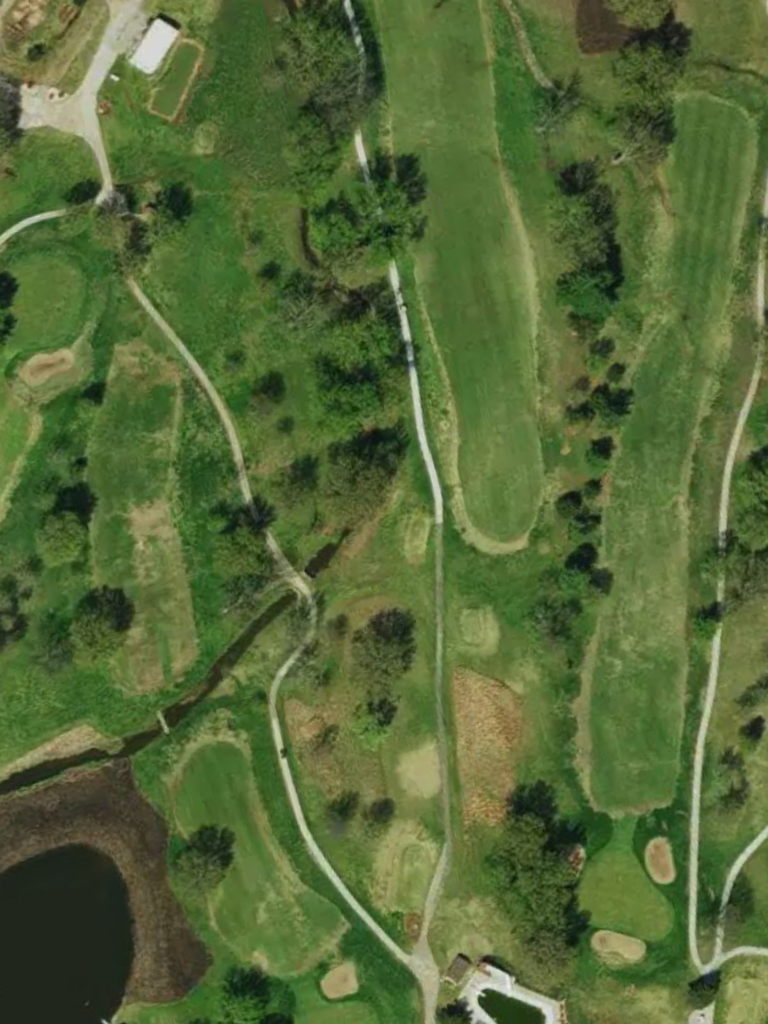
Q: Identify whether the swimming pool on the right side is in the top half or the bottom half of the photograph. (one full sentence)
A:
The swimming pool on the right side sits in the bottom half of the picture.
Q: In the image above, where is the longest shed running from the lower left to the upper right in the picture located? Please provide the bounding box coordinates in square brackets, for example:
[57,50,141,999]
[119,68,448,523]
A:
[131,16,179,74]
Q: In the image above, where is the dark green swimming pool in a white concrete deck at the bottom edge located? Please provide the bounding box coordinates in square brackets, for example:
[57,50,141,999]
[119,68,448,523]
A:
[461,965,564,1024]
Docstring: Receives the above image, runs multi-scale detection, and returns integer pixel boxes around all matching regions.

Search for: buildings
[131,16,179,74]
[447,955,472,983]
[481,965,514,990]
